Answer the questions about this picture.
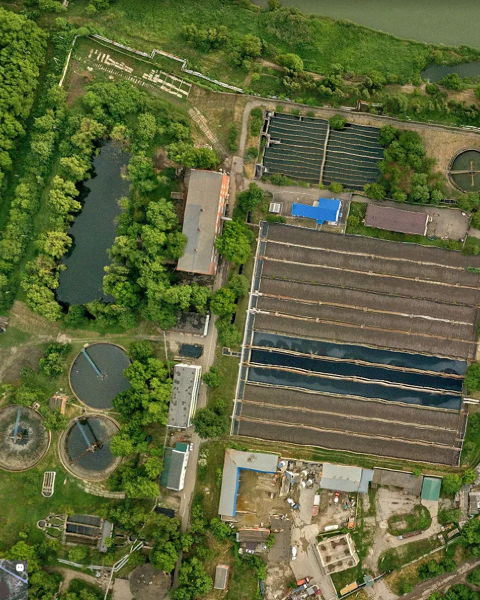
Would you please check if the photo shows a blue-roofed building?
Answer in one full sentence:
Yes, there's a blue-roofed building here.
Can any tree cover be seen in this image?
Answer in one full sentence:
Yes, tree cover can be seen from above here.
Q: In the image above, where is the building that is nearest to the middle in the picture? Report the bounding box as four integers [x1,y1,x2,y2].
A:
[170,312,210,337]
